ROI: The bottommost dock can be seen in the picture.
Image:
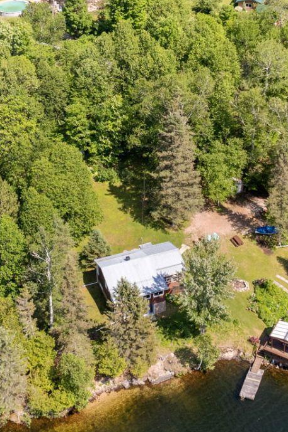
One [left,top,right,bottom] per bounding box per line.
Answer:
[238,368,264,403]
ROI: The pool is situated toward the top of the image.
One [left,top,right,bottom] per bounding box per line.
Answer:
[0,1,26,19]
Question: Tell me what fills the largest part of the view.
trees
